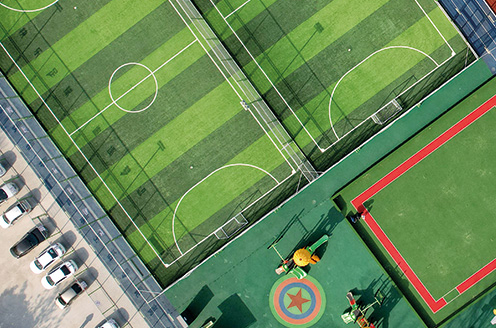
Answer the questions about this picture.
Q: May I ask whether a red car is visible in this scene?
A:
No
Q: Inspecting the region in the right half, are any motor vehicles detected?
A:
No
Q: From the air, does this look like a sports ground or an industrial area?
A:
sports ground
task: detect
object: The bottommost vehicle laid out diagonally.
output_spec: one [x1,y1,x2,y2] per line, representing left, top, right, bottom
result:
[55,278,92,309]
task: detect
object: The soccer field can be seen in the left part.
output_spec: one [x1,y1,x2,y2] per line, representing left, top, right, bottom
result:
[0,0,316,288]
